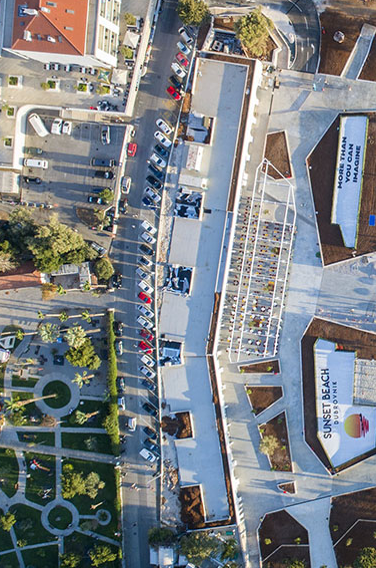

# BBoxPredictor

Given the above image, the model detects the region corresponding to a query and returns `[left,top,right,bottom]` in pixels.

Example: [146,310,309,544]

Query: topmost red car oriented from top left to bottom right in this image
[175,52,191,67]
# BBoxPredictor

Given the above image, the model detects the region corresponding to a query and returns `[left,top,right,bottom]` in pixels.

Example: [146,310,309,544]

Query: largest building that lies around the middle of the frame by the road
[160,55,263,532]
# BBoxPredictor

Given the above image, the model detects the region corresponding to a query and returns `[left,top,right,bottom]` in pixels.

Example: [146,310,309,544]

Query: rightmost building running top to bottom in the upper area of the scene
[305,109,376,265]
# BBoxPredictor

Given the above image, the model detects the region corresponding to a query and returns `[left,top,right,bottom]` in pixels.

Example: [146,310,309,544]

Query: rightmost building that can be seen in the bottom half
[299,317,376,477]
